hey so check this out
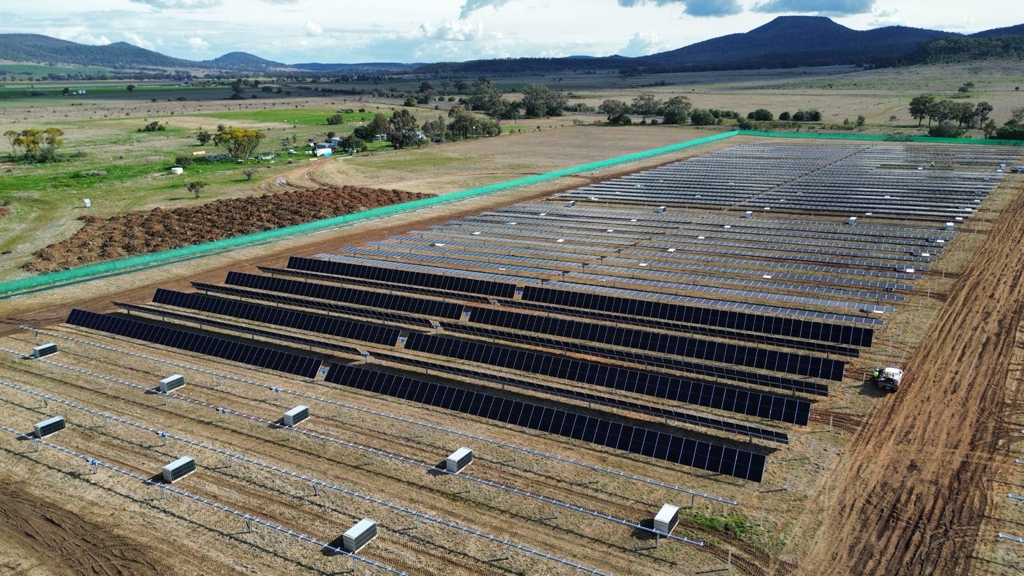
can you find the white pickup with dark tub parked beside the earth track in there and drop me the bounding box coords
[874,362,904,388]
